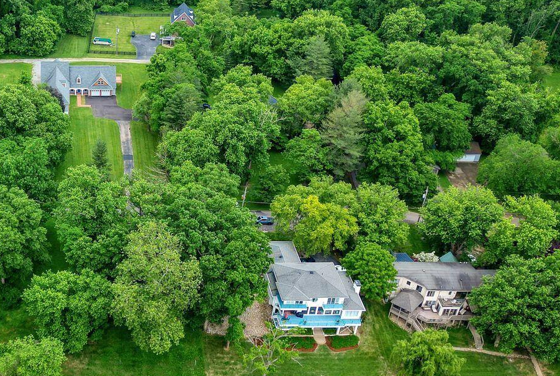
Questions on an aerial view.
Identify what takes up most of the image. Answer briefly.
trees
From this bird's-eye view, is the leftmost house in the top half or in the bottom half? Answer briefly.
top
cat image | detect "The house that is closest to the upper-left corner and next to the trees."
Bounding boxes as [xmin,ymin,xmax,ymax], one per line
[38,62,123,111]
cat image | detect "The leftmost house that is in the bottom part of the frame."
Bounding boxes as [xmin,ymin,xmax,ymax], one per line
[266,240,366,338]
